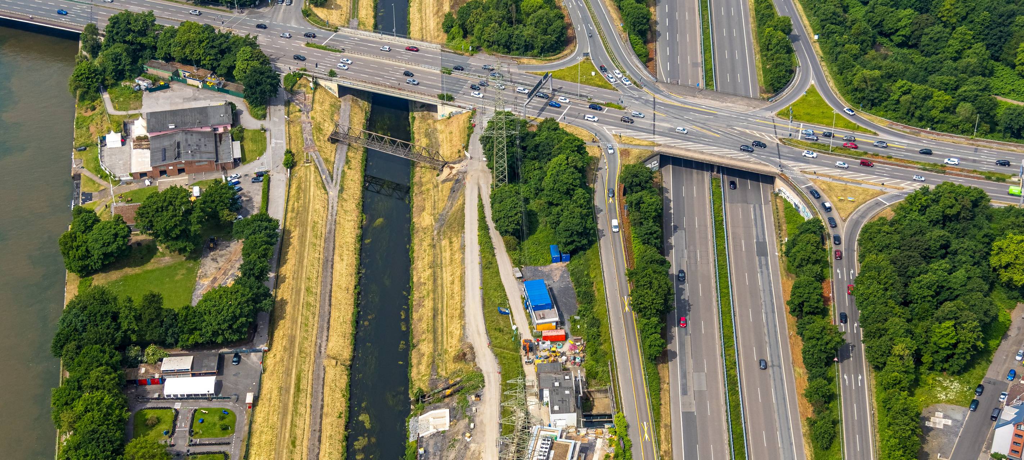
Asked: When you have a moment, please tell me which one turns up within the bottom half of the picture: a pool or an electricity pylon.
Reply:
electricity pylon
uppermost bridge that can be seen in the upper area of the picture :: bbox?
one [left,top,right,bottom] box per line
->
[0,8,88,37]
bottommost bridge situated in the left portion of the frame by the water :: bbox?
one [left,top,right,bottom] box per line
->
[328,126,448,177]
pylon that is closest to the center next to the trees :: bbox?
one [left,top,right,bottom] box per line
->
[469,56,531,168]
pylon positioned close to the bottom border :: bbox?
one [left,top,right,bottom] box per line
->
[477,376,564,460]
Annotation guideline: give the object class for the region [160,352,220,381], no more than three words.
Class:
shed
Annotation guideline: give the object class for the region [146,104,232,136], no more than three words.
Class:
building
